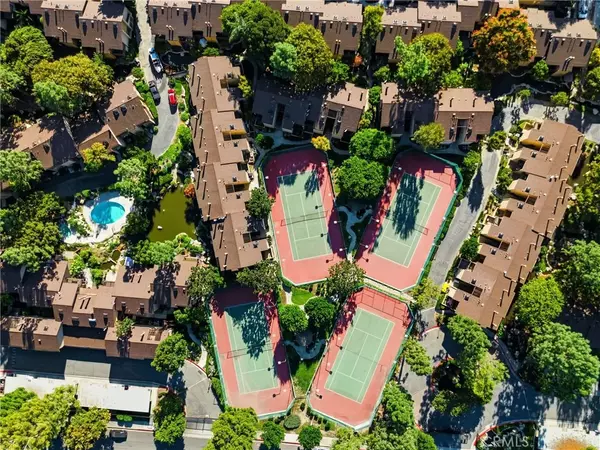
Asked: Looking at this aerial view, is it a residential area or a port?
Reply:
residential area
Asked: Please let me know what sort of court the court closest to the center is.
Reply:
tennis court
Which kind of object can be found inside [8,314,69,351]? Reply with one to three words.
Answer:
house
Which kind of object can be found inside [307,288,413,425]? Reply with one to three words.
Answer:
tennis court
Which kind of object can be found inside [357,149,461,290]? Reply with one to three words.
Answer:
tennis court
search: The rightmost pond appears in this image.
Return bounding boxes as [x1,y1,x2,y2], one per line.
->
[148,189,206,244]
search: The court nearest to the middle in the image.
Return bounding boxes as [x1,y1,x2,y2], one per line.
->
[261,146,348,284]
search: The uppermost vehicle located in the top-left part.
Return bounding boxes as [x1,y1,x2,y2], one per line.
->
[149,48,163,73]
